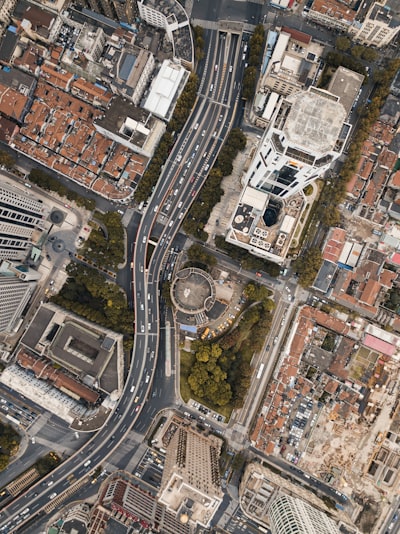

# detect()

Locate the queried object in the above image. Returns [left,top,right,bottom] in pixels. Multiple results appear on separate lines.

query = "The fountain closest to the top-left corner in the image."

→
[46,206,67,227]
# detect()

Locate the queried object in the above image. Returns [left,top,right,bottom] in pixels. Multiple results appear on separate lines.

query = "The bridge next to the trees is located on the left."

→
[0,30,235,534]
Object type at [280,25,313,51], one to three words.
building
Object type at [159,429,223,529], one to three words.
building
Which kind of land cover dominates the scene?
buildings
